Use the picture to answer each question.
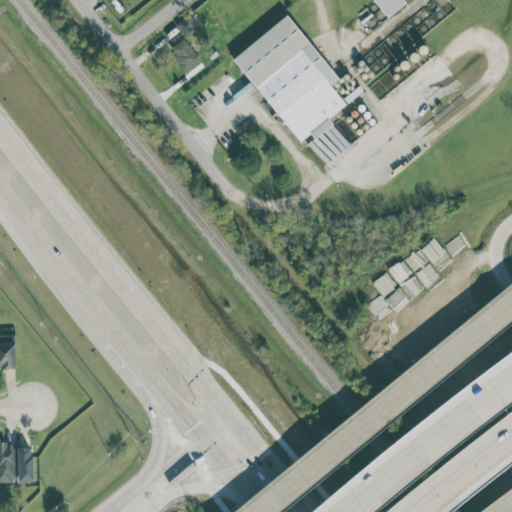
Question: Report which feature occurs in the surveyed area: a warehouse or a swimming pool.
warehouse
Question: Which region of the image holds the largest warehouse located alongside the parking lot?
top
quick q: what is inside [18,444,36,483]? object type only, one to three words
house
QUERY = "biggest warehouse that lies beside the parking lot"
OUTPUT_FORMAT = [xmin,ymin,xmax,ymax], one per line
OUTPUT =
[233,15,348,142]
